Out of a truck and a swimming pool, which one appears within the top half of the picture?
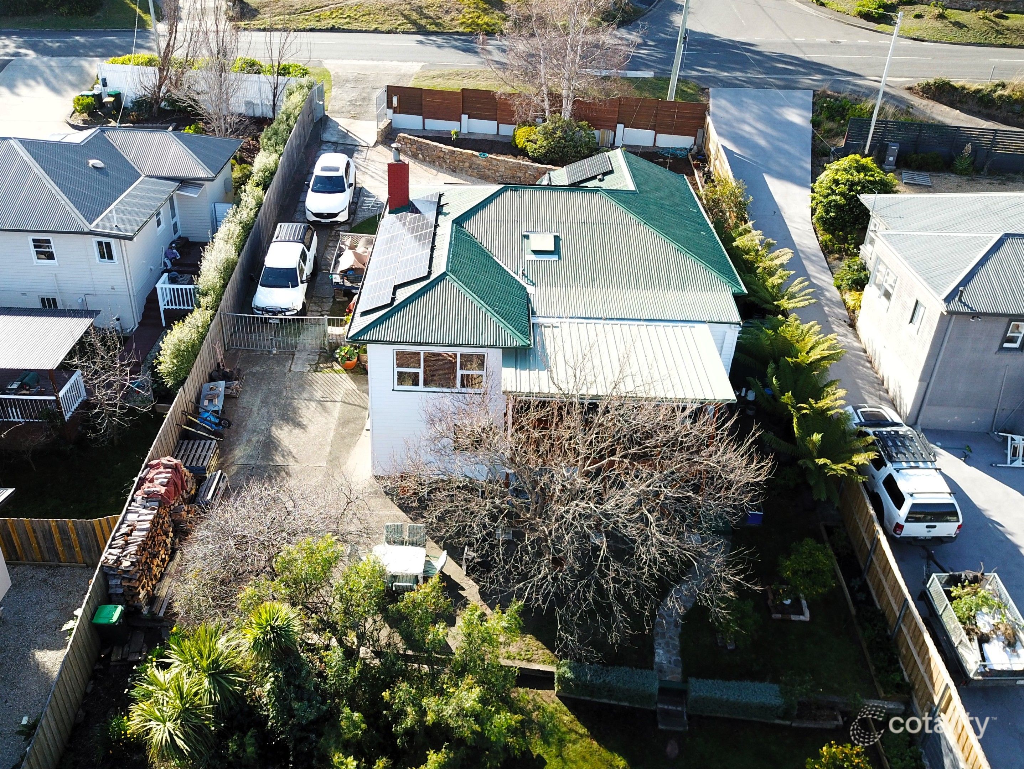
truck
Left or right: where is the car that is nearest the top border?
left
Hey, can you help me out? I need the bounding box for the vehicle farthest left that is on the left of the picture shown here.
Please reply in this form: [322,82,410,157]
[249,215,317,317]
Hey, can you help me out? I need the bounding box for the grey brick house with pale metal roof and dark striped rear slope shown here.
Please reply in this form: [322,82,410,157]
[849,188,1024,426]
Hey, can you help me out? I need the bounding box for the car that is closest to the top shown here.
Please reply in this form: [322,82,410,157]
[301,153,354,220]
